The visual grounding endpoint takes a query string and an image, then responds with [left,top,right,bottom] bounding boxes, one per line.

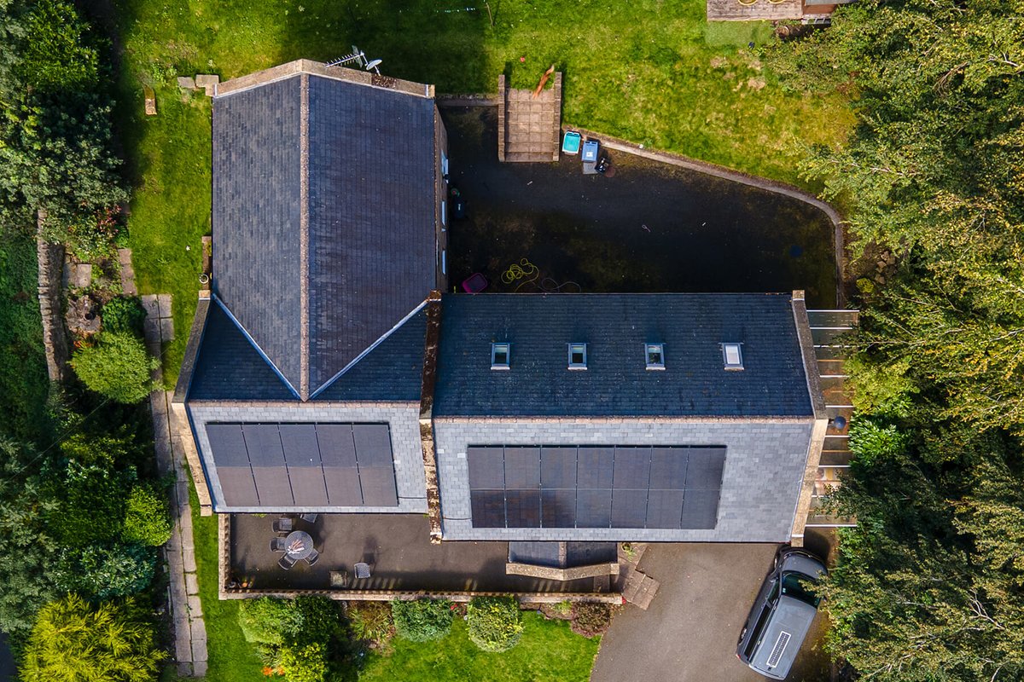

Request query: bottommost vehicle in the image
[732,543,828,682]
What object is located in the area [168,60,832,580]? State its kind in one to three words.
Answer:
house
